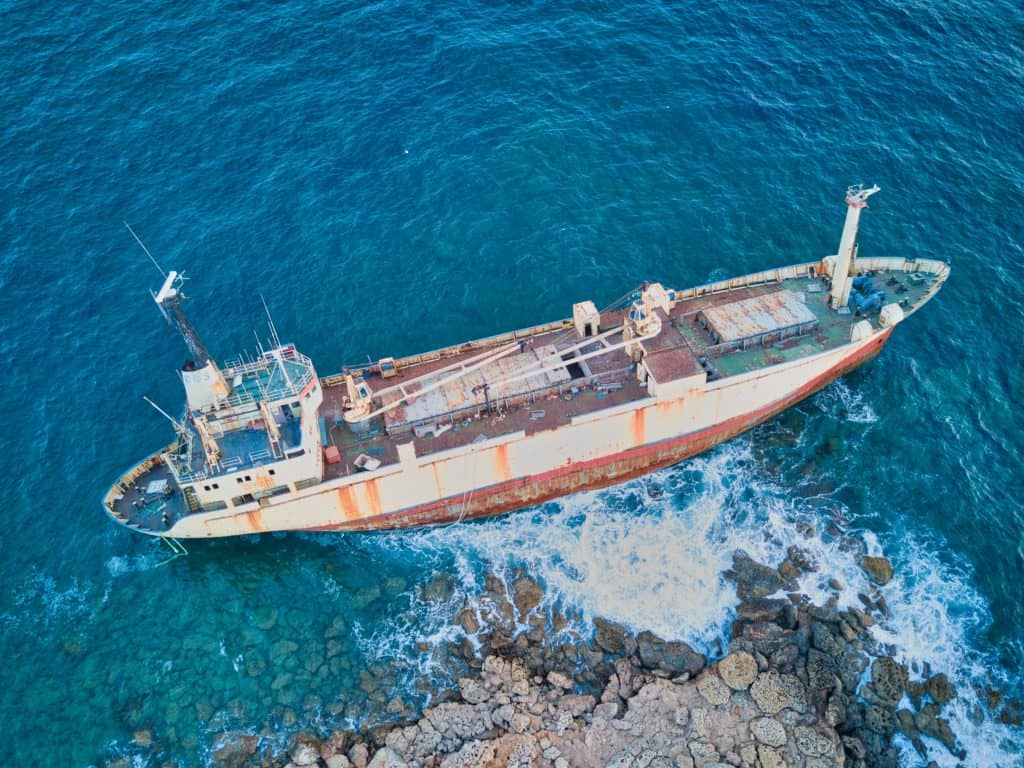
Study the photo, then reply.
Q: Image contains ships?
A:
Yes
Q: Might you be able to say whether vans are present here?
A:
No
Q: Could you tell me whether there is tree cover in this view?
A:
No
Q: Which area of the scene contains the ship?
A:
center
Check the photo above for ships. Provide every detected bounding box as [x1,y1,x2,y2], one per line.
[102,182,951,571]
